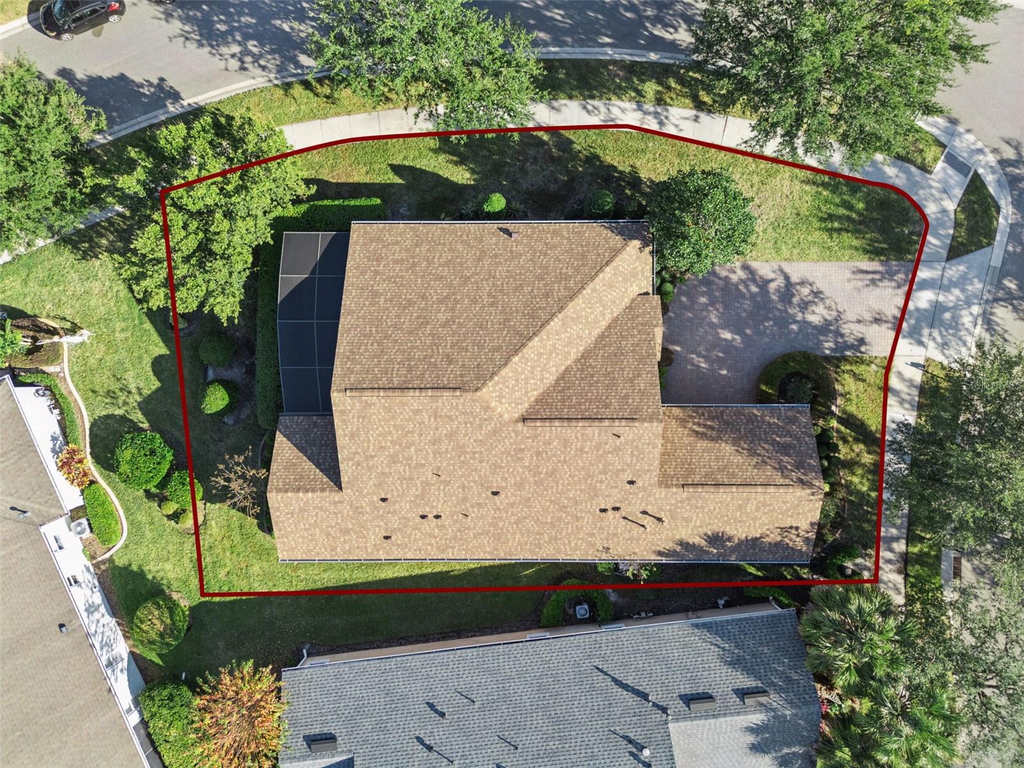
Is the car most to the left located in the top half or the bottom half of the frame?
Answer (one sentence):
You can find the car most to the left in the top half.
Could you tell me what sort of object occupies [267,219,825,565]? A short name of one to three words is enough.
house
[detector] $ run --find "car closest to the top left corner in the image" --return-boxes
[38,0,124,41]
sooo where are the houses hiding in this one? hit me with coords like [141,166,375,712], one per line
[279,599,821,768]
[267,219,825,565]
[0,375,159,768]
